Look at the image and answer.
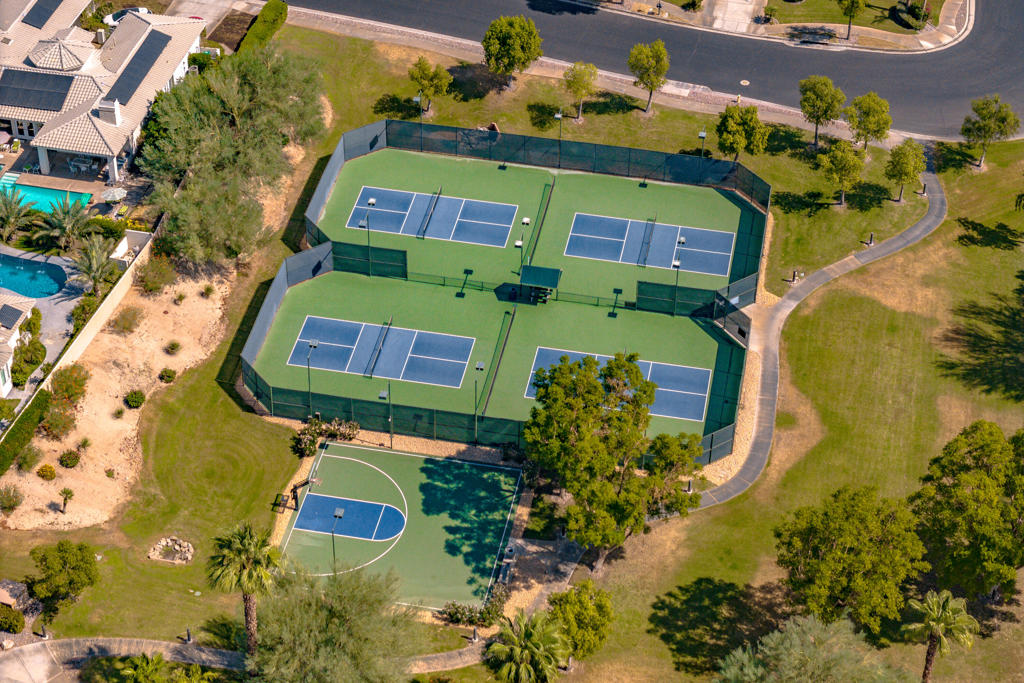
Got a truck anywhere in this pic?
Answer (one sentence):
No, no truck can be seen from above.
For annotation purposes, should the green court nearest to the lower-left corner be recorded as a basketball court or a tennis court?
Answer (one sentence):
Specifically, the green court nearest to the lower-left corner is a basketball court.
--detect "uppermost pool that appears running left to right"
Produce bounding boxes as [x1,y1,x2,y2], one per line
[0,169,97,218]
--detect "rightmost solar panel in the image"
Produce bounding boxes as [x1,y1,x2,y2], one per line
[105,29,171,105]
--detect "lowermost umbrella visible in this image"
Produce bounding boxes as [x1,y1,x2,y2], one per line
[100,182,127,211]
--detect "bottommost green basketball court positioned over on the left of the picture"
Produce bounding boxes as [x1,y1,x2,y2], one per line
[272,440,522,621]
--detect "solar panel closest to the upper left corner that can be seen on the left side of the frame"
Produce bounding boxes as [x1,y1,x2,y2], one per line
[21,0,71,31]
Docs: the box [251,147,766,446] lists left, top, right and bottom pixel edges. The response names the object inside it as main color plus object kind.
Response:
green sports court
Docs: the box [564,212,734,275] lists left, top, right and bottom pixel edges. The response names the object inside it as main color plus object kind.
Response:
blue sports court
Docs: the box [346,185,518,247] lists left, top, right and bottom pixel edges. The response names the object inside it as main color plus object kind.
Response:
blue sports court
